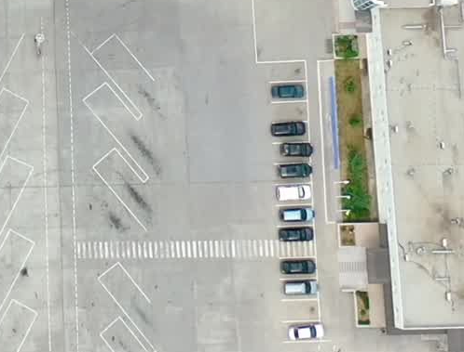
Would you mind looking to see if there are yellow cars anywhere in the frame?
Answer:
No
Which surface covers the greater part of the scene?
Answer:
paved ground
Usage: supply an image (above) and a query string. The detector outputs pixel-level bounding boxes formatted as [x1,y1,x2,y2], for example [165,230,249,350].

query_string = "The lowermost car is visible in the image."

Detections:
[287,323,323,340]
